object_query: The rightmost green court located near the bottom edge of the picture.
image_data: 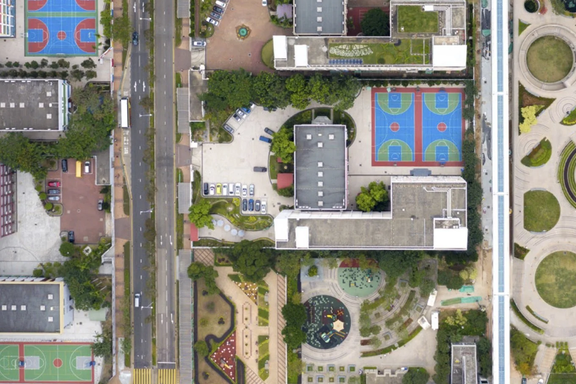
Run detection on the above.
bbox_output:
[24,345,92,381]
